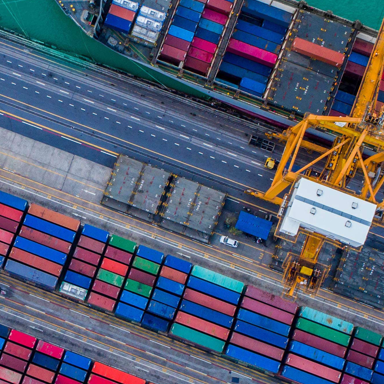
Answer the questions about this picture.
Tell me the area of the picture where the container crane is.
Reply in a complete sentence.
You can find the container crane in the right area of the picture.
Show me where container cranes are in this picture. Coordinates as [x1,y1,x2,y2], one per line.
[241,20,384,311]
